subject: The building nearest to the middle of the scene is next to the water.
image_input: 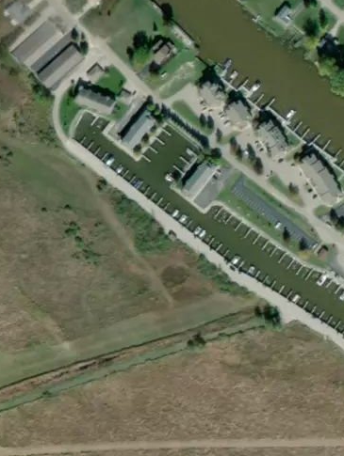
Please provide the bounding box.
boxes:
[181,157,221,202]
